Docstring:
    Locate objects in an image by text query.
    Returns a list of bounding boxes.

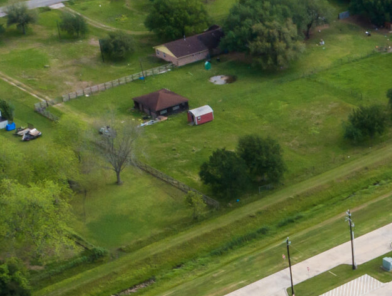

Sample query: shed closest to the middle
[183,103,214,126]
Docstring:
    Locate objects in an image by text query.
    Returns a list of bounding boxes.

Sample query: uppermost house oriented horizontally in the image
[154,32,235,69]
